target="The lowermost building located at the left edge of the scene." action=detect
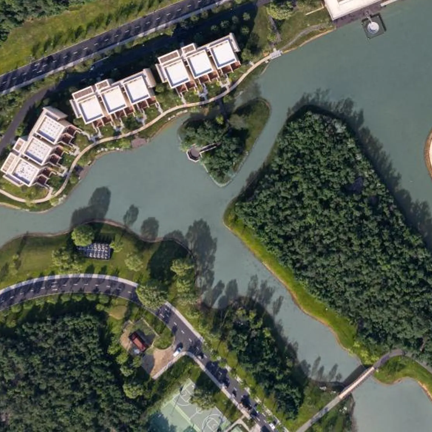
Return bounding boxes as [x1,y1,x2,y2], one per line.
[1,152,54,187]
